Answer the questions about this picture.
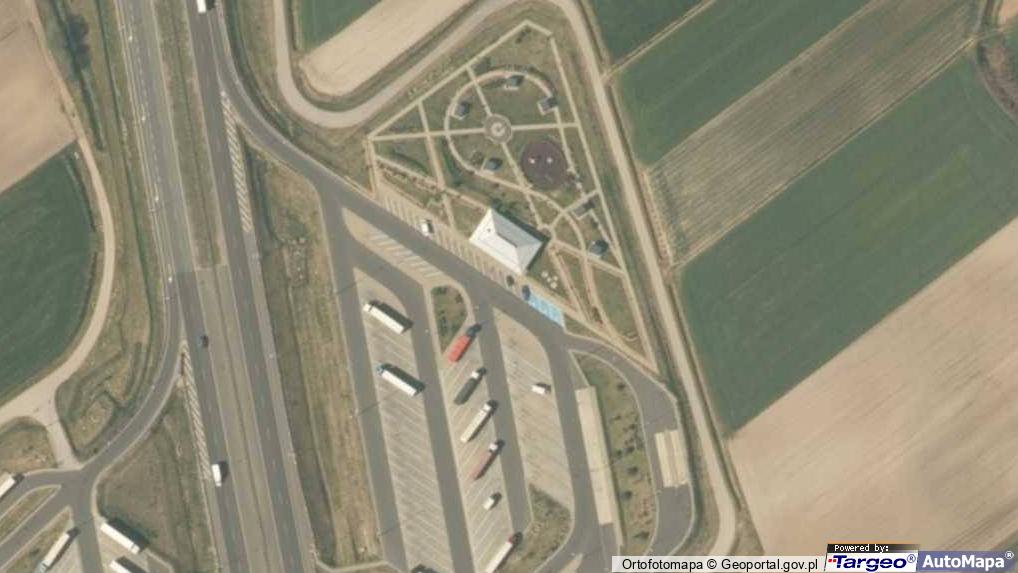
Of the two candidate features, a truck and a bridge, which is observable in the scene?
truck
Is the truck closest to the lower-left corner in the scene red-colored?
No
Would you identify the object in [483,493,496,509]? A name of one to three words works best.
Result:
vehicle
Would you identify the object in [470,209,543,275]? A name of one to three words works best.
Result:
building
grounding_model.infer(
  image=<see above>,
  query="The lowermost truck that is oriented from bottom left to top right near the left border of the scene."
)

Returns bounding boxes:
[34,534,70,573]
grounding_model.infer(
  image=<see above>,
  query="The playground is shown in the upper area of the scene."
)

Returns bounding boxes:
[522,144,567,189]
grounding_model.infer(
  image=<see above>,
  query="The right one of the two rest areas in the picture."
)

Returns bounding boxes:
[227,39,696,573]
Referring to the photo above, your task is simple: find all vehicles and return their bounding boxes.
[376,366,416,396]
[523,286,531,300]
[196,0,206,12]
[422,221,429,235]
[449,323,480,363]
[460,403,493,444]
[532,385,548,395]
[483,493,496,509]
[201,334,208,348]
[453,369,482,407]
[107,560,130,573]
[363,302,404,334]
[0,478,14,496]
[507,275,514,287]
[484,535,517,573]
[98,523,139,554]
[34,534,70,573]
[212,464,223,486]
[470,443,499,481]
